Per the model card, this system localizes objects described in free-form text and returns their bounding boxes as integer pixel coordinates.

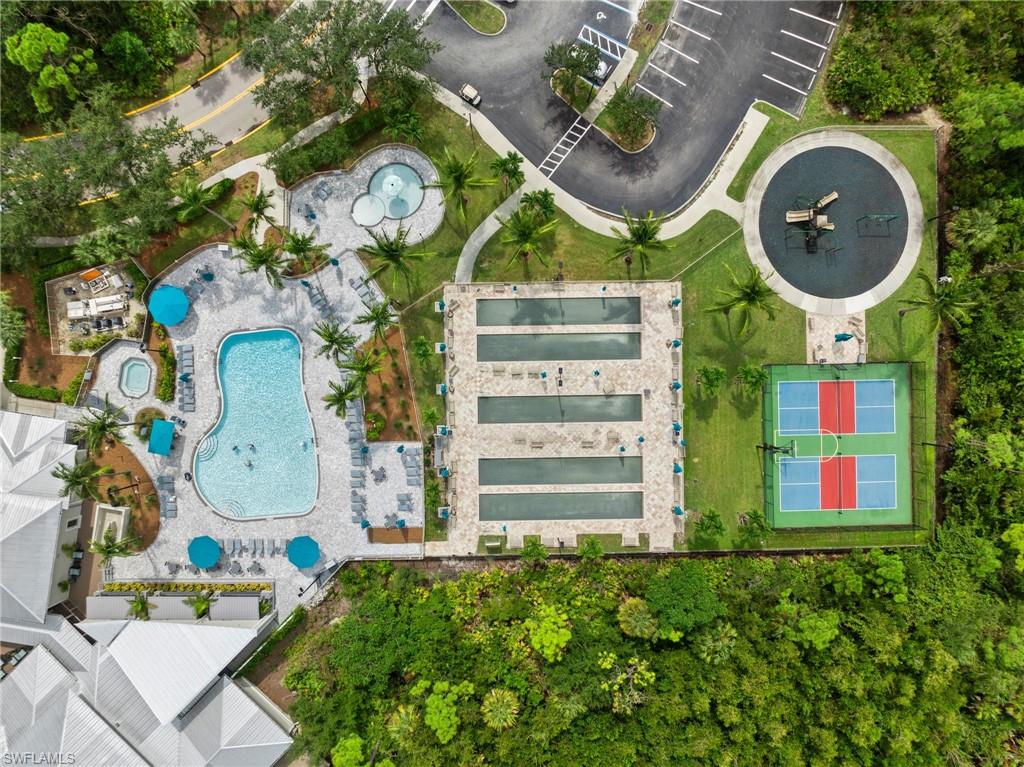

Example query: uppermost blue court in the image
[778,379,896,436]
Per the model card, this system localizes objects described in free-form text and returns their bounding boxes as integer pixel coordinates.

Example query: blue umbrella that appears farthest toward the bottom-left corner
[188,534,223,568]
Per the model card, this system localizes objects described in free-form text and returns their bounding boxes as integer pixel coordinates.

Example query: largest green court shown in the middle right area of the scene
[762,363,912,528]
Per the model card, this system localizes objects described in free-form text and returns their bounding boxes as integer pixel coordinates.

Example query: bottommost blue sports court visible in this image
[780,454,898,512]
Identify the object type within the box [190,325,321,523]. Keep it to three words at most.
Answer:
swimming pool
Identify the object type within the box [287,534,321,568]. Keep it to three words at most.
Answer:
umbrella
